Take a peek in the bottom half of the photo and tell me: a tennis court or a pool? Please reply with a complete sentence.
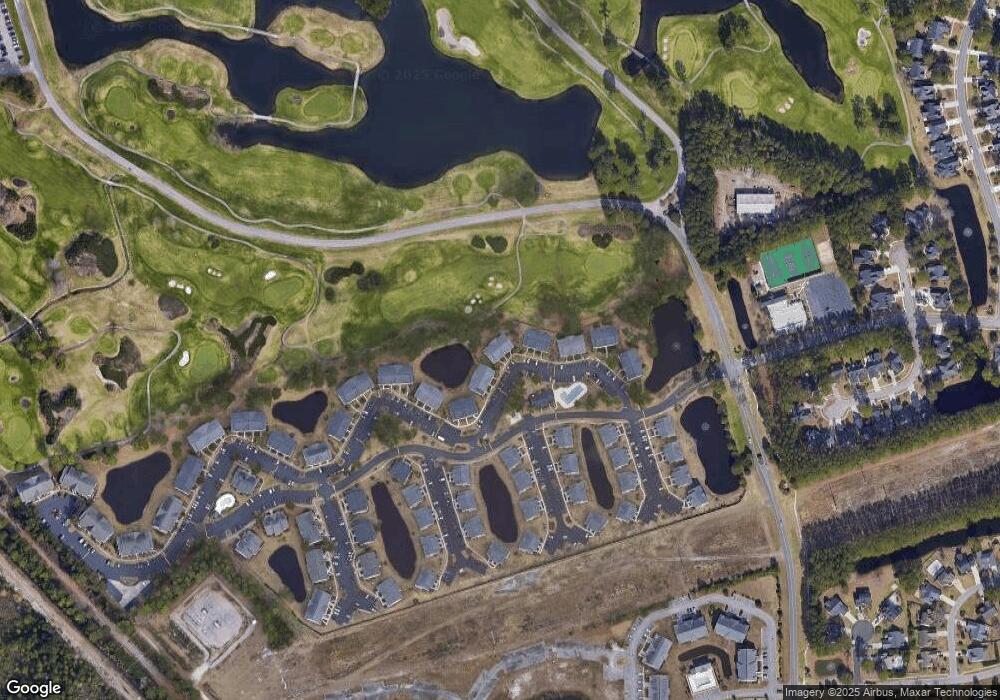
What appears in the bottom half of the photo is a pool.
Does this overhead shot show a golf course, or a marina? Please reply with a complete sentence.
It's a golf course.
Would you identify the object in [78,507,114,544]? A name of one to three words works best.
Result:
building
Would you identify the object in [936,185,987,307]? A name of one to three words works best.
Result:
pond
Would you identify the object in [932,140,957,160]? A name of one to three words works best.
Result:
house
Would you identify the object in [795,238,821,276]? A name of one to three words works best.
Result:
tennis court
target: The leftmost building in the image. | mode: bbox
[16,471,55,503]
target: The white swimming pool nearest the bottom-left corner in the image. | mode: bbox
[216,493,235,513]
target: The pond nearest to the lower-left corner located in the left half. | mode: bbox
[103,450,171,523]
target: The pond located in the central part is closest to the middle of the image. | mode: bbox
[421,344,474,388]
